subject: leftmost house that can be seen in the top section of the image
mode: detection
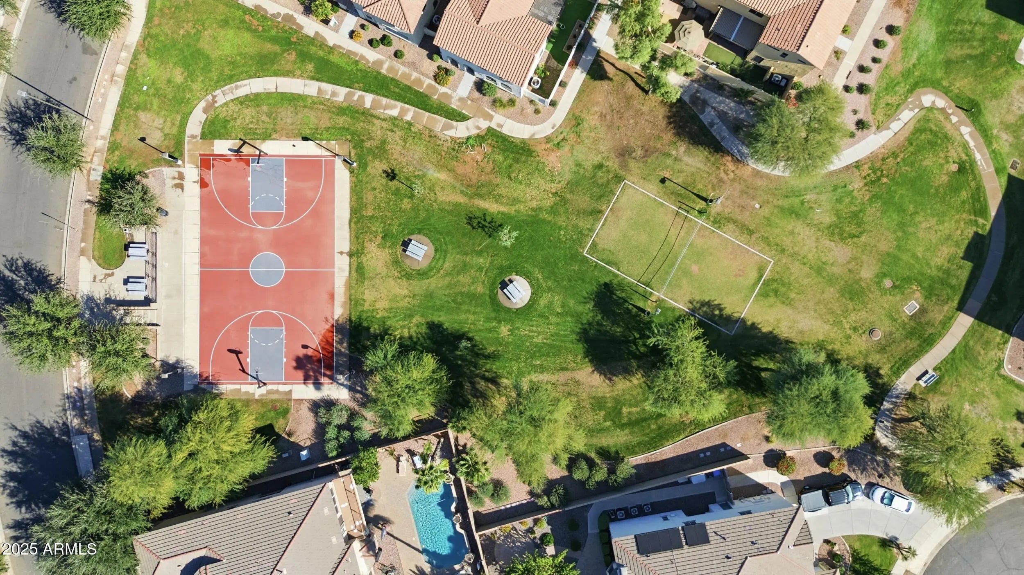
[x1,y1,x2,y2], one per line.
[346,0,437,46]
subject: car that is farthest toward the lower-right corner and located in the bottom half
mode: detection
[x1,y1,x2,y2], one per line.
[868,484,917,514]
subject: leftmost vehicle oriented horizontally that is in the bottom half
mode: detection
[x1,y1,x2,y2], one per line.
[801,481,862,511]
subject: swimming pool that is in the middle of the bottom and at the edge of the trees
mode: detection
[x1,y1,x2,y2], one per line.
[406,482,469,570]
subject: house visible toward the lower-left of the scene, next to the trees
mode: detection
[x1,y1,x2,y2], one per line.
[132,464,384,575]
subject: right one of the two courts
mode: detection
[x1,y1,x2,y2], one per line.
[585,182,773,334]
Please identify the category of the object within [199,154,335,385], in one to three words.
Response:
basketball court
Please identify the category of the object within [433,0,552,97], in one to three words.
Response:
house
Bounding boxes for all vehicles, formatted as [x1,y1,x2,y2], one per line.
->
[801,481,862,511]
[868,484,917,514]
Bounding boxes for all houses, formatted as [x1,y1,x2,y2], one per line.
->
[697,0,857,81]
[433,0,552,97]
[608,492,816,575]
[132,464,384,575]
[346,0,437,46]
